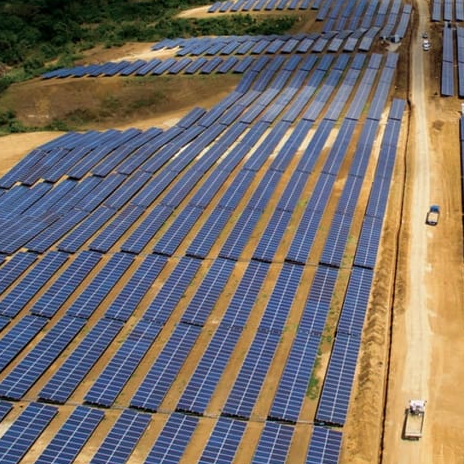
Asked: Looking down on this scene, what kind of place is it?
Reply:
solar farm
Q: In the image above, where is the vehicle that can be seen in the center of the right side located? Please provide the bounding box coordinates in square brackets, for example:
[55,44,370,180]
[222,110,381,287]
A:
[427,208,439,224]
